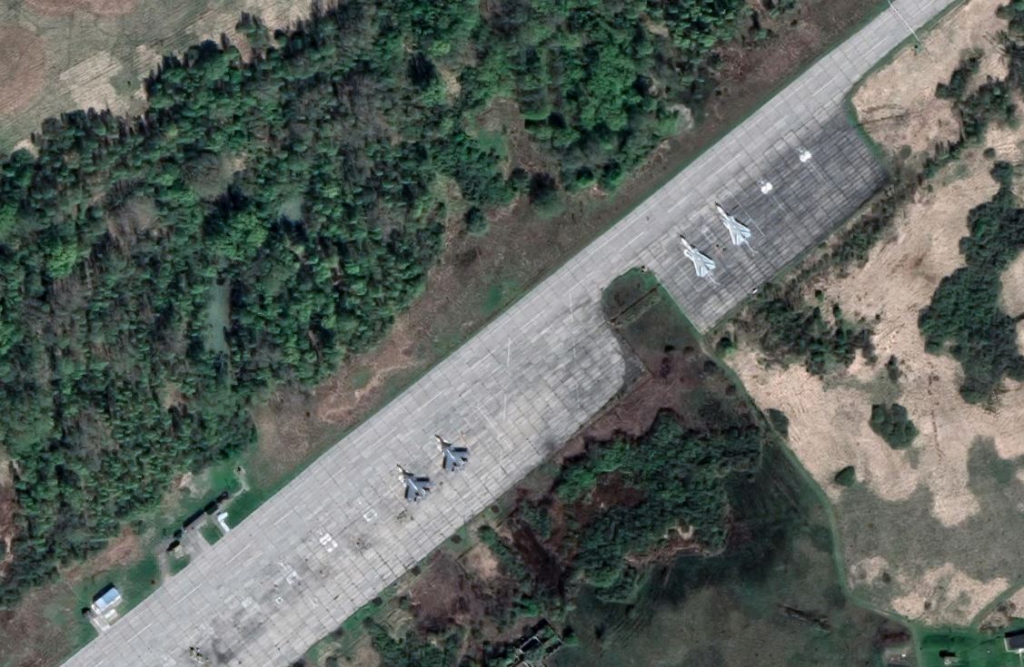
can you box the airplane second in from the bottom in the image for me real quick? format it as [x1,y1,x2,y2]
[434,436,468,473]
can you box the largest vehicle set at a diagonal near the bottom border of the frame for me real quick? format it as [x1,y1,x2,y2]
[189,647,204,663]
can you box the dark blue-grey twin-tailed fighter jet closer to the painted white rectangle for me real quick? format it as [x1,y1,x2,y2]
[398,468,431,504]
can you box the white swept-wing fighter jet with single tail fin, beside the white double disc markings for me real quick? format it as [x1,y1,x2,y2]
[714,202,751,245]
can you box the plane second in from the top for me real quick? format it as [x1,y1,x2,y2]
[681,237,716,278]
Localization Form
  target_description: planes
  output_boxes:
[434,436,468,473]
[714,202,751,245]
[681,237,716,278]
[398,468,431,504]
